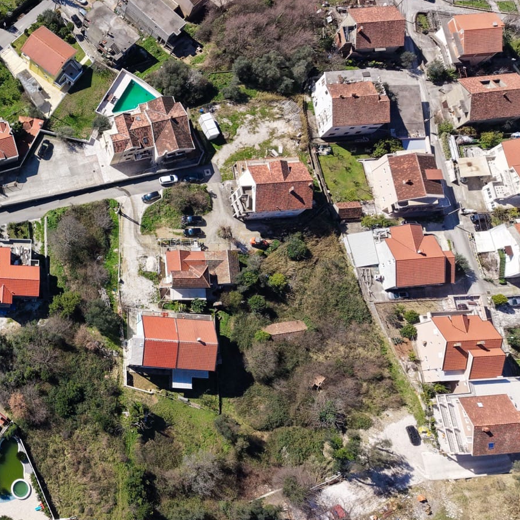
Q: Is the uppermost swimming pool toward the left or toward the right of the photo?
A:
left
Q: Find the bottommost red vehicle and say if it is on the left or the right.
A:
right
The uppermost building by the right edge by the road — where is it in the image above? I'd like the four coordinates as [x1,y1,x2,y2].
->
[435,12,505,65]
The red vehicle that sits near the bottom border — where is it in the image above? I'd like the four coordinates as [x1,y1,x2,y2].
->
[328,498,349,520]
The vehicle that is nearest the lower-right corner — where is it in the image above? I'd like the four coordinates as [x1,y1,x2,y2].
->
[405,425,420,446]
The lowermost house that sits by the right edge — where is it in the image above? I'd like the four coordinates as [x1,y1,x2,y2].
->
[428,377,520,456]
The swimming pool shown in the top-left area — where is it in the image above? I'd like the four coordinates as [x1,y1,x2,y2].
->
[110,78,157,115]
